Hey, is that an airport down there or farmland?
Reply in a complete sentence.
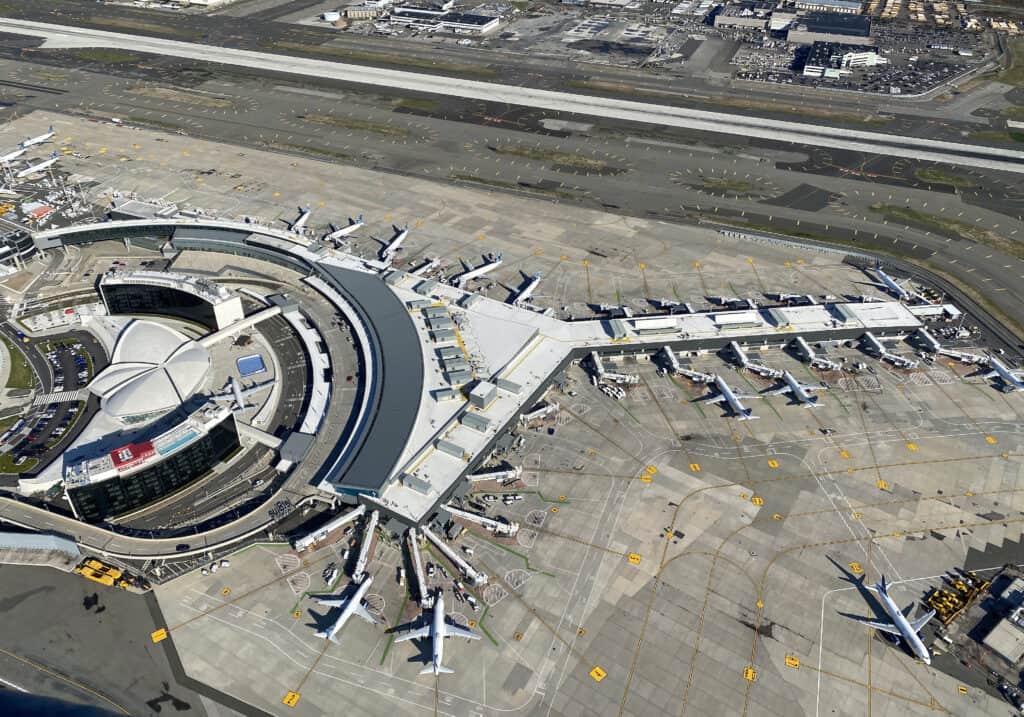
What you see here is an airport.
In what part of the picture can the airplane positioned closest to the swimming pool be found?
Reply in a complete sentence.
The airplane positioned closest to the swimming pool appears toward the left of the photo.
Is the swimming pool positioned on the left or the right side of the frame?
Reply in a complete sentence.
The swimming pool sits on the left side.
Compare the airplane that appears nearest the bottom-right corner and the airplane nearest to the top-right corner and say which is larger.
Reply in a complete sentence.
The airplane nearest to the top-right corner is smaller than the airplane that appears nearest the bottom-right corner.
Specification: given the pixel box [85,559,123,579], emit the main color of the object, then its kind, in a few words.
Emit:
yellow vehicle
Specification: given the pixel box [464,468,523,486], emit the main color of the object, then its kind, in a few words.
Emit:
white jet bridge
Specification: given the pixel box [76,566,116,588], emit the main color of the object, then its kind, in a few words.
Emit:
yellow vehicle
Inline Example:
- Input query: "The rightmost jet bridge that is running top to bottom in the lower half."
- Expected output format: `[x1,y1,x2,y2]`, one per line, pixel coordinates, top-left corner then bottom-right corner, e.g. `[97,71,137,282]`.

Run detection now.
[409,527,433,612]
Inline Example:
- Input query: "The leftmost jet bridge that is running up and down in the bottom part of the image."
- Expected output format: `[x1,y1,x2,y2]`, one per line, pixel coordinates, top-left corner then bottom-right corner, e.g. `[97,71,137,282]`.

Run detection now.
[353,509,379,587]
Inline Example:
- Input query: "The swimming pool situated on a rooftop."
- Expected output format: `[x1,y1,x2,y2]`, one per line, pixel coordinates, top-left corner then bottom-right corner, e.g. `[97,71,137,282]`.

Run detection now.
[162,429,201,452]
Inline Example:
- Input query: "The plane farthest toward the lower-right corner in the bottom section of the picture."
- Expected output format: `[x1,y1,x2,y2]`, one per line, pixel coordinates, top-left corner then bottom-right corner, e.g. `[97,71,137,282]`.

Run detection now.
[859,576,939,665]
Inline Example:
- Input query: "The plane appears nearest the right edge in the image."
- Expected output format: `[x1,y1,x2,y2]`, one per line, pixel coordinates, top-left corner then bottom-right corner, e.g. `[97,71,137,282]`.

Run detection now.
[983,359,1024,391]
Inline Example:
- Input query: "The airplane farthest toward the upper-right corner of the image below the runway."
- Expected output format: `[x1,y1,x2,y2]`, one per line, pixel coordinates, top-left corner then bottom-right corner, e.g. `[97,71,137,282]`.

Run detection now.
[869,262,912,299]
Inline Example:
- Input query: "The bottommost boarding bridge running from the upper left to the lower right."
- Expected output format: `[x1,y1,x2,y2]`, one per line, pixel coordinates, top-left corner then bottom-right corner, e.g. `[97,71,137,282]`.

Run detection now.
[421,524,489,588]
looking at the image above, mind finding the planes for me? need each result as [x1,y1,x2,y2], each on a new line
[396,593,480,676]
[0,185,17,199]
[773,371,830,407]
[859,576,939,665]
[18,151,61,177]
[0,143,30,163]
[316,579,381,645]
[505,268,554,305]
[460,252,507,282]
[704,375,763,419]
[22,126,59,148]
[983,359,1024,391]
[326,217,368,241]
[286,206,318,228]
[375,223,420,258]
[206,377,266,412]
[869,262,912,299]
